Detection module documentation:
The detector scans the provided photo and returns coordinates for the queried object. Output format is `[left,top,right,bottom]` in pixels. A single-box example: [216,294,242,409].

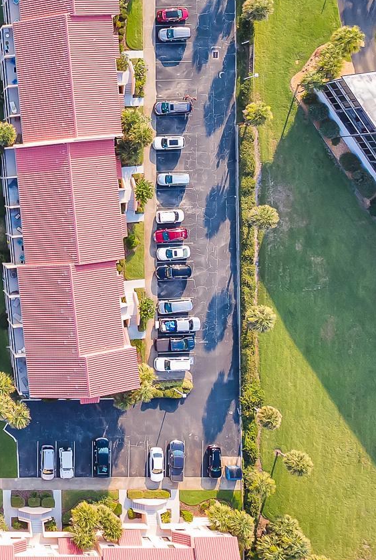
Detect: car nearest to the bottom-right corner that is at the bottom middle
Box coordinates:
[205,443,222,477]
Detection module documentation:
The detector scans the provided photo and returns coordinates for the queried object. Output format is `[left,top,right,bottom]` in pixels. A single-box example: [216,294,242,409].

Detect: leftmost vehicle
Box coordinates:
[39,443,56,479]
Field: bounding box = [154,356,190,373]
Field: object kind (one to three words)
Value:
car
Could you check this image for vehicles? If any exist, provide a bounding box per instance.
[166,440,185,481]
[154,336,194,353]
[155,7,187,23]
[156,246,189,261]
[58,444,75,477]
[154,356,190,373]
[155,171,189,187]
[156,27,190,42]
[155,100,190,116]
[147,446,164,480]
[205,443,222,477]
[152,227,187,243]
[39,443,56,479]
[150,135,184,150]
[156,264,189,279]
[157,298,192,315]
[158,317,198,334]
[155,209,184,224]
